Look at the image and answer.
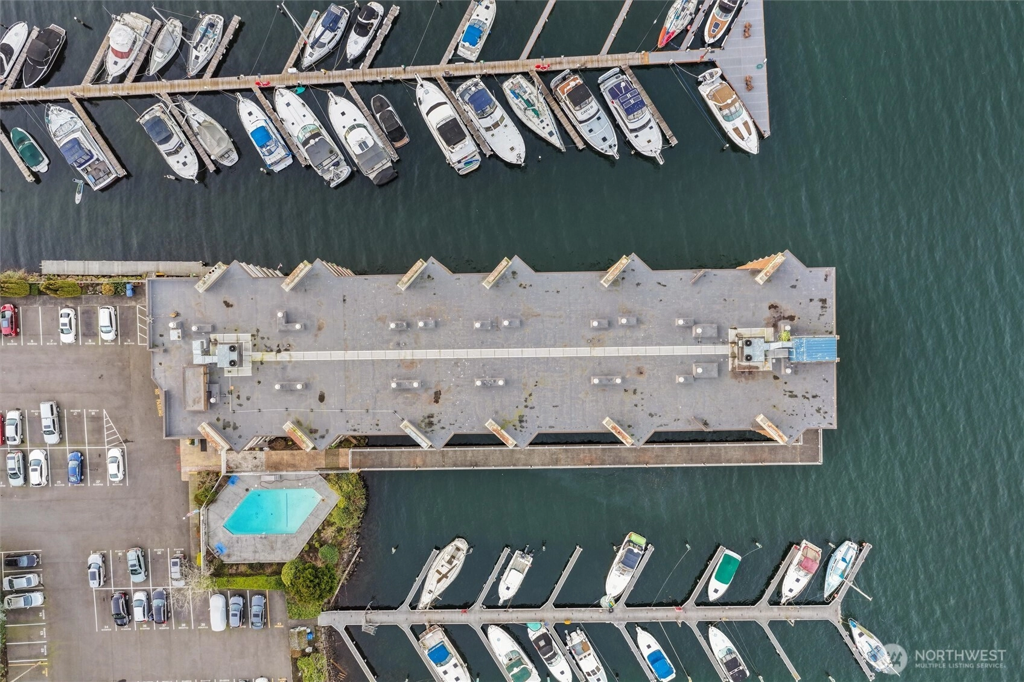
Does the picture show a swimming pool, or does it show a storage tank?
swimming pool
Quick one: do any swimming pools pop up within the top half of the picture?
No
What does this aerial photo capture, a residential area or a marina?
marina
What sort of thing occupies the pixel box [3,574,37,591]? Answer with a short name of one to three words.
car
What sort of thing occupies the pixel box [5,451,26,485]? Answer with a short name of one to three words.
car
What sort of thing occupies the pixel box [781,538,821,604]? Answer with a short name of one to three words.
boat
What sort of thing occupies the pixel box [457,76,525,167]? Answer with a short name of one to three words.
boat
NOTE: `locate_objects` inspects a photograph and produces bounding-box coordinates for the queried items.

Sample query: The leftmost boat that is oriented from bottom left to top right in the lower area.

[419,534,470,614]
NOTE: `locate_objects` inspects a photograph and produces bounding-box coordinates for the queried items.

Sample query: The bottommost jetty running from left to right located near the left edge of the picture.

[39,260,204,276]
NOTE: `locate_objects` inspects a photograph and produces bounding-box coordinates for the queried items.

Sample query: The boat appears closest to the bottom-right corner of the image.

[850,622,896,681]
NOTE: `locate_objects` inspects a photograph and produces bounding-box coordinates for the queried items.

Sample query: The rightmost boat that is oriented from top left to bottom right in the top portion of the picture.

[695,79,760,155]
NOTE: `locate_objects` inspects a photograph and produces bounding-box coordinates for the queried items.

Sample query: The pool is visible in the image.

[208,473,338,563]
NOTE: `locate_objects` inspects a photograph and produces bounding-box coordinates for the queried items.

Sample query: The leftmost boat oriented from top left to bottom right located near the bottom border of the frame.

[424,624,470,682]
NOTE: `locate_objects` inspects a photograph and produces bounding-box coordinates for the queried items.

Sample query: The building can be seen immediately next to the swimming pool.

[143,249,838,454]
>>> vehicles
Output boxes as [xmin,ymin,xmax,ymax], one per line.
[227,595,245,627]
[58,308,77,341]
[167,555,186,586]
[0,305,18,335]
[147,589,169,623]
[111,593,131,626]
[4,553,36,569]
[3,574,37,591]
[132,592,150,622]
[5,451,26,485]
[249,595,266,628]
[105,449,124,481]
[28,451,48,485]
[2,411,22,444]
[4,592,41,609]
[127,549,146,581]
[39,404,62,441]
[86,554,106,587]
[65,452,84,482]
[97,306,116,339]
